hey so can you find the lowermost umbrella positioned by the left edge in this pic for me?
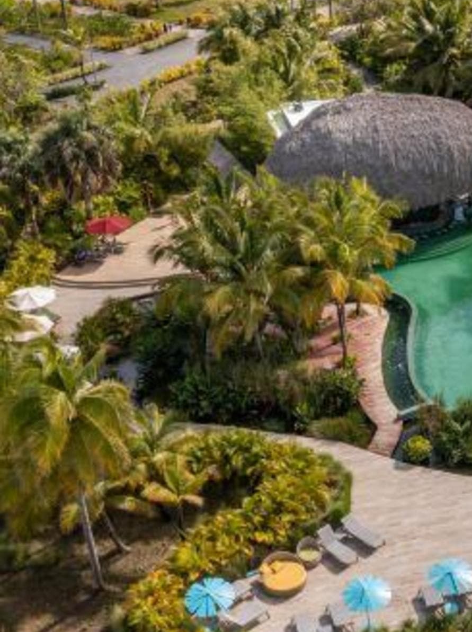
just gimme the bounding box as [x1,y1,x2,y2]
[0,314,59,369]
